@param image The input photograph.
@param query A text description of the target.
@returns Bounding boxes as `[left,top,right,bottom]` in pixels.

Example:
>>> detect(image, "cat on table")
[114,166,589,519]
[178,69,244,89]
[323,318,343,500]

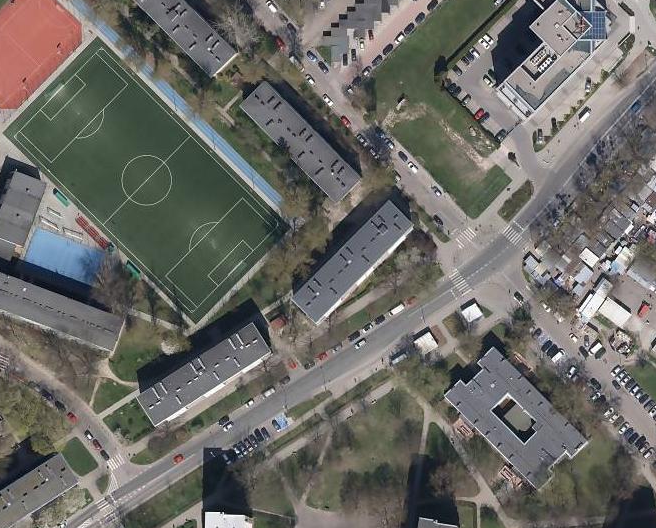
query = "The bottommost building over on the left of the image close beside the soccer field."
[136,323,271,429]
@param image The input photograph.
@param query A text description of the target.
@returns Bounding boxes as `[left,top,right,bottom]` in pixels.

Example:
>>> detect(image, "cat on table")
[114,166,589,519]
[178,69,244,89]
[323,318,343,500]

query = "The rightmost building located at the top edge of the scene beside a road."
[496,0,607,119]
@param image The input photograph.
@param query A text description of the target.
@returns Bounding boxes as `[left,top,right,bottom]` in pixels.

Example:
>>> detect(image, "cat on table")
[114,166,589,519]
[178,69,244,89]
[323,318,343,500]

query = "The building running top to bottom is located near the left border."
[0,171,48,263]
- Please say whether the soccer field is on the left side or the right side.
left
